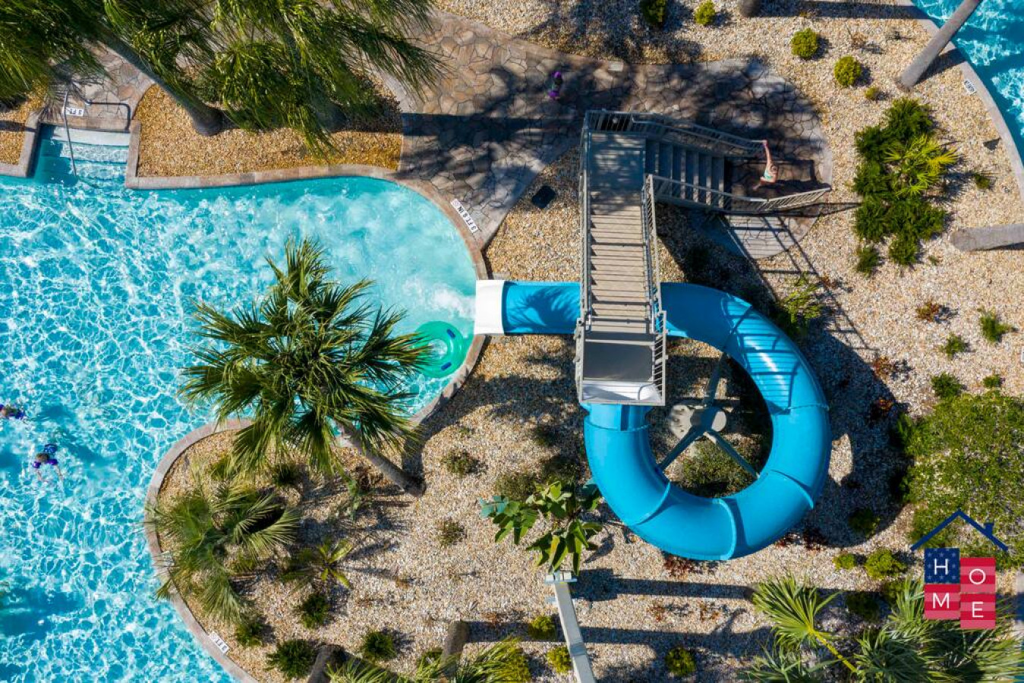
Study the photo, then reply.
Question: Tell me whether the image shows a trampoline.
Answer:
No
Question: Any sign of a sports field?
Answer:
No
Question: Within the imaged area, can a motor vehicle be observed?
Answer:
No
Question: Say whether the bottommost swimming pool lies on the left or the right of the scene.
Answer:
left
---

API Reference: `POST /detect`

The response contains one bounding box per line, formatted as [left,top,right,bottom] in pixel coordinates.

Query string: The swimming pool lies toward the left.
[0,127,476,683]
